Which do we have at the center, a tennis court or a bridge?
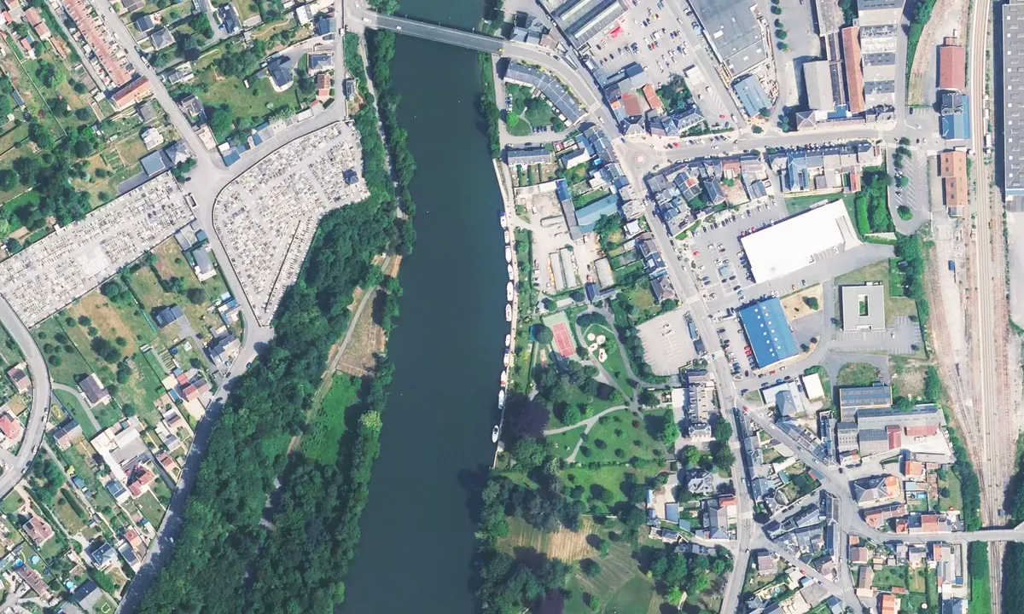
tennis court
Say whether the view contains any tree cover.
Yes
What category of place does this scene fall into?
residential area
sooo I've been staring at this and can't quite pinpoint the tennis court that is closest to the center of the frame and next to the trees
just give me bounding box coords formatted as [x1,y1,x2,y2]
[542,312,579,359]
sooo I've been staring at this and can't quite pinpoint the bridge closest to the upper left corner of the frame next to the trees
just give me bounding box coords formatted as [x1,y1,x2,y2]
[373,12,507,56]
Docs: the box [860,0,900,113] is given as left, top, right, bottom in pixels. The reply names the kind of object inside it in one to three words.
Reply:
building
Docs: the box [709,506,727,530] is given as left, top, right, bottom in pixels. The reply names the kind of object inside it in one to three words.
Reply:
house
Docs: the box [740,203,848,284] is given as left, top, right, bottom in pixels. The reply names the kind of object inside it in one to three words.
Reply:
building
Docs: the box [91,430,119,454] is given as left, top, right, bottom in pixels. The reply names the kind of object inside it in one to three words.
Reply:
house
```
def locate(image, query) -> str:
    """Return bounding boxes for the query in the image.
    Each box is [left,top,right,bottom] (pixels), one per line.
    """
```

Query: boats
[505,334,510,347]
[500,371,506,388]
[505,303,511,320]
[504,349,510,366]
[506,281,514,301]
[498,390,504,409]
[499,210,506,228]
[504,230,509,243]
[492,425,499,443]
[504,245,512,262]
